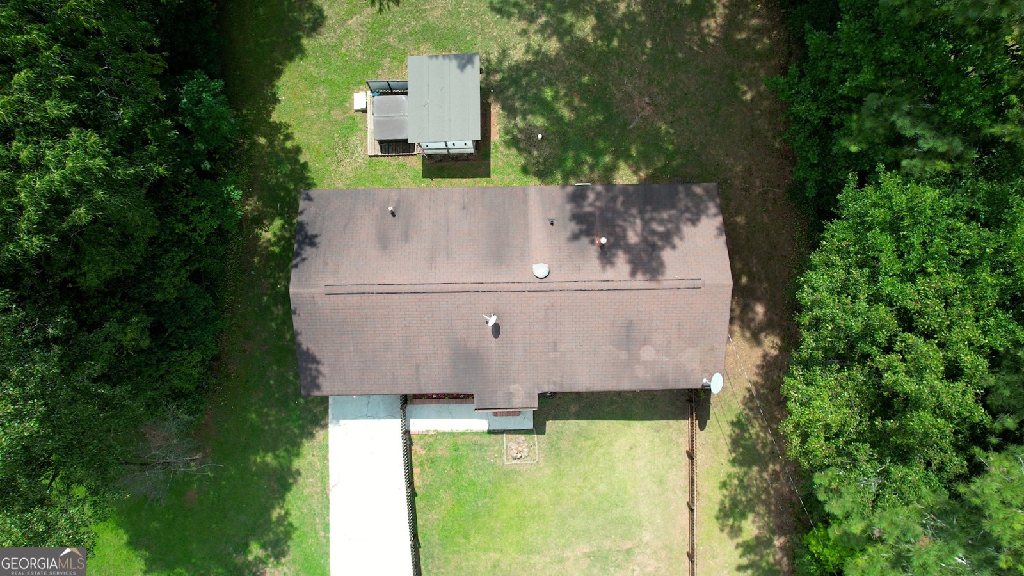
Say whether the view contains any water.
No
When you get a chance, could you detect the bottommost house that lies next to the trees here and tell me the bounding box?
[289,183,733,415]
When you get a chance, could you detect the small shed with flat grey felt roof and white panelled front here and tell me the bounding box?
[407,53,481,155]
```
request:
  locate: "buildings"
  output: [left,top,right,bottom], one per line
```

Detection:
[407,53,481,155]
[289,183,733,415]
